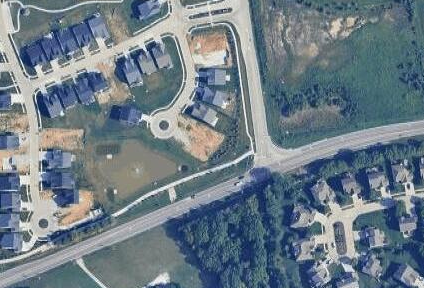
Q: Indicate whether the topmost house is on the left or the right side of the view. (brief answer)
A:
left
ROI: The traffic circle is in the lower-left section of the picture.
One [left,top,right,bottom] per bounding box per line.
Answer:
[28,209,58,237]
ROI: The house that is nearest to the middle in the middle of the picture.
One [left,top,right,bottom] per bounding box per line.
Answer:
[185,102,219,128]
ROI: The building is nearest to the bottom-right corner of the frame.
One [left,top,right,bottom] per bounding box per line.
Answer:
[394,259,423,286]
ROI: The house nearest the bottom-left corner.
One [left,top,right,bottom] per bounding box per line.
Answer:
[0,230,21,250]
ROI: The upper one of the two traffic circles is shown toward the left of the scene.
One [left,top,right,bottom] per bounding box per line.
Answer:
[149,111,178,139]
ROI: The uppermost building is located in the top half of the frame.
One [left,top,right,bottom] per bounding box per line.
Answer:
[134,0,159,21]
